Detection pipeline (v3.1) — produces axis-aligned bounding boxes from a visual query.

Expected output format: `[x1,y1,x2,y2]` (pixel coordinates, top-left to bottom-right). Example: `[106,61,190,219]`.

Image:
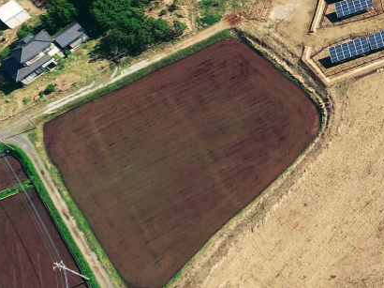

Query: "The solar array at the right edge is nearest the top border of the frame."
[334,0,375,19]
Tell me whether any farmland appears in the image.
Yes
